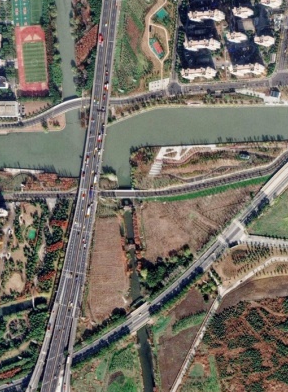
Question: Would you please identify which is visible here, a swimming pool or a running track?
running track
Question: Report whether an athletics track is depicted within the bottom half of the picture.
No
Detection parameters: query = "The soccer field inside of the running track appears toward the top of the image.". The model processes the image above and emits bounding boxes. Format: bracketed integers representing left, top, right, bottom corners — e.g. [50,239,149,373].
[23,40,46,83]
